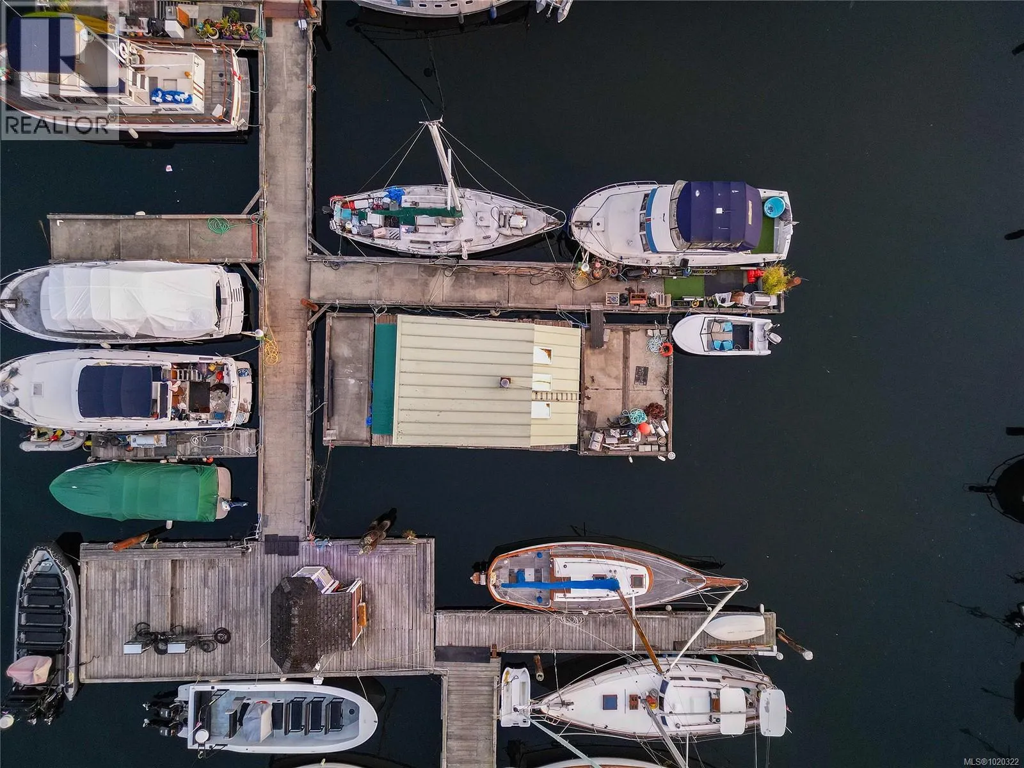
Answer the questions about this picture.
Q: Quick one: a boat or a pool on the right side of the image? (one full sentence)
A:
The one visible on the right side of the image is a boat.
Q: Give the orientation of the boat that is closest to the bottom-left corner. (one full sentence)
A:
The boat that is closest to the bottom-left corner is oriented vertically.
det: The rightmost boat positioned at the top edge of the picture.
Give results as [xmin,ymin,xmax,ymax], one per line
[536,0,576,24]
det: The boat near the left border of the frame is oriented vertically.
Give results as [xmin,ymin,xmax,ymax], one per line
[2,541,79,721]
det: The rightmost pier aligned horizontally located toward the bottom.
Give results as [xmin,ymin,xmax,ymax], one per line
[436,607,776,654]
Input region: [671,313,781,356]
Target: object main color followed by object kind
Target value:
white boat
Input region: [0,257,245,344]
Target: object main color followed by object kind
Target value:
white boat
